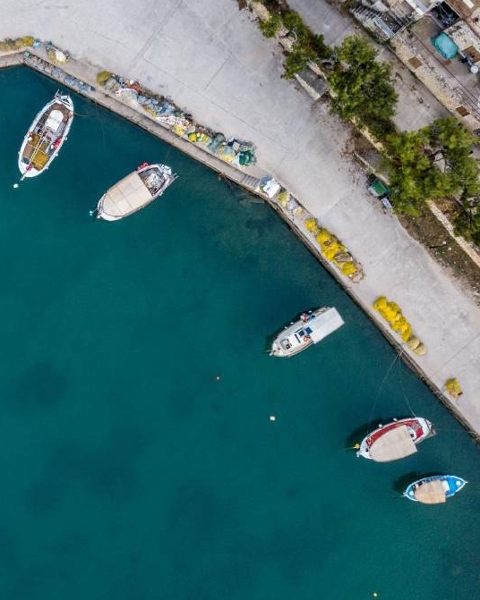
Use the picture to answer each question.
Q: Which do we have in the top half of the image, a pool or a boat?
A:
boat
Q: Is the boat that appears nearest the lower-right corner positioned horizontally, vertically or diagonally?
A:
horizontally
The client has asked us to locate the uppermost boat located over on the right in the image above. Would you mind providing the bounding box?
[268,302,347,356]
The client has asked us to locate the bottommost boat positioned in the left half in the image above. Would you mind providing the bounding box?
[92,165,186,220]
